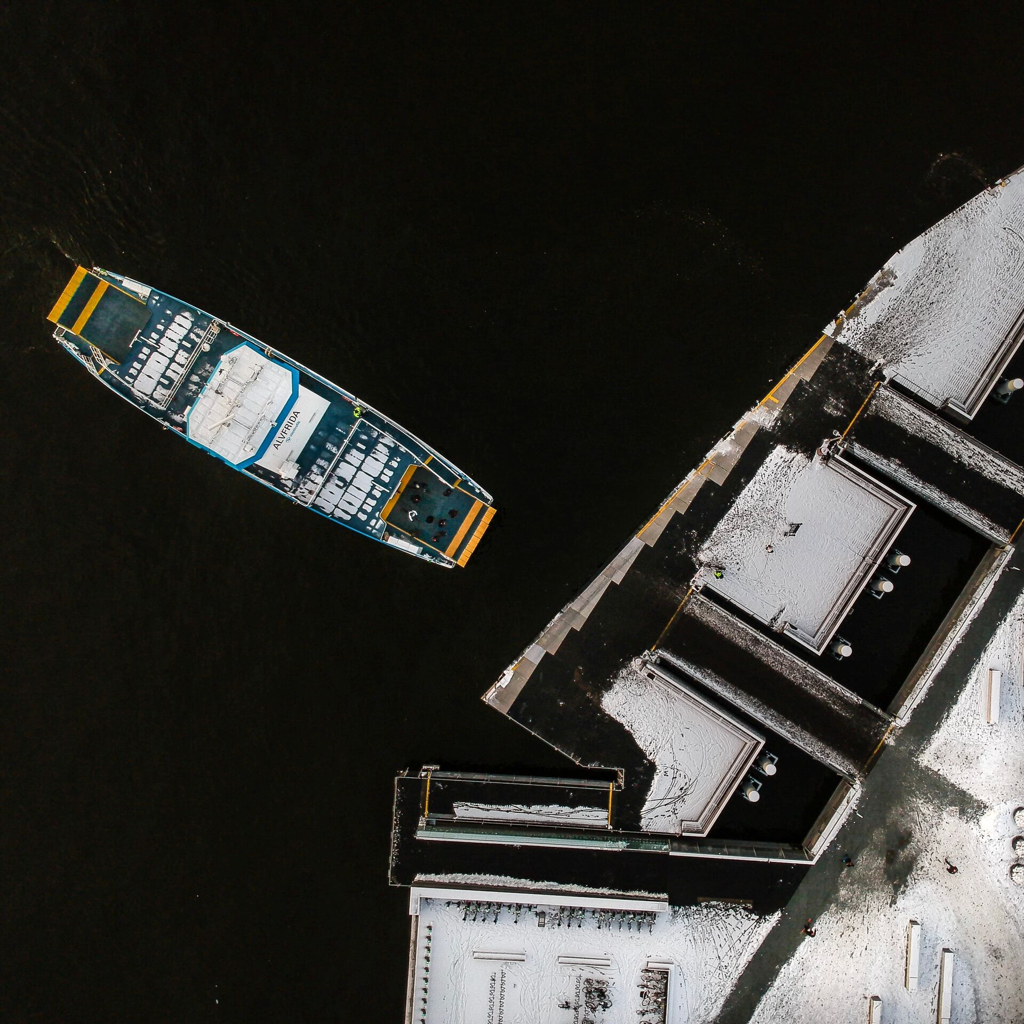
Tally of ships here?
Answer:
1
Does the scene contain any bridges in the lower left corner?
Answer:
No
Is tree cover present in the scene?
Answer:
No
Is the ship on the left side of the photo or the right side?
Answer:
left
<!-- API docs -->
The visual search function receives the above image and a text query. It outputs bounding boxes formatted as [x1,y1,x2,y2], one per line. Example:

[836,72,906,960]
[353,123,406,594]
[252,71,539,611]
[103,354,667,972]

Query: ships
[47,264,497,568]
